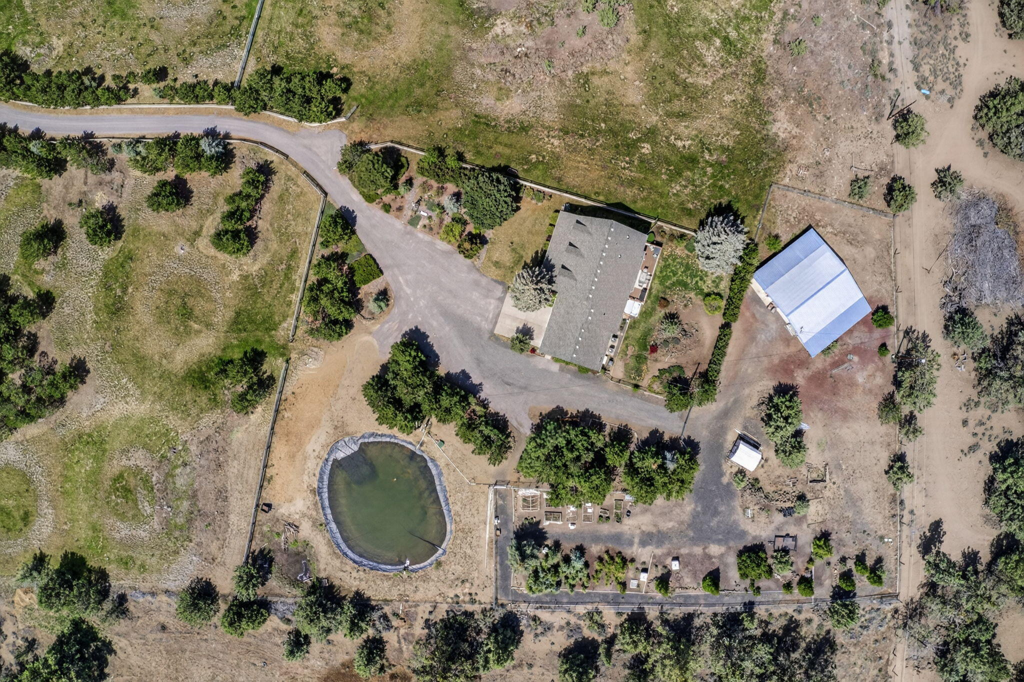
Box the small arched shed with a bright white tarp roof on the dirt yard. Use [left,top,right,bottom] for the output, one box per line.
[724,435,761,469]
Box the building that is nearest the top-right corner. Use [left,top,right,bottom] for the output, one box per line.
[749,229,872,355]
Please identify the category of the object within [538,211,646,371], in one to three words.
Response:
house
